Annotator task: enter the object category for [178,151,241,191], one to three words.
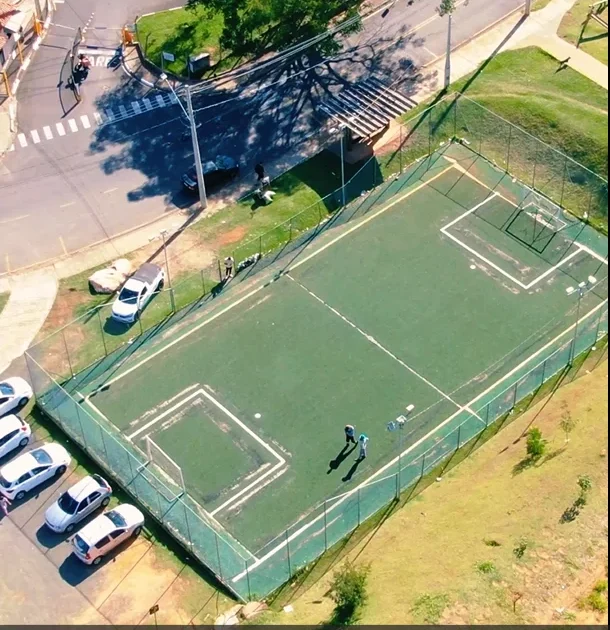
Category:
car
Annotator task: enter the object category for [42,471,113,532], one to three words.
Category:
car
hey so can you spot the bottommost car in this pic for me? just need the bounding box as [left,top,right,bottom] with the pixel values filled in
[71,503,143,562]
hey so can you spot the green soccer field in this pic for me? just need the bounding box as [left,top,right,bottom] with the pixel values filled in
[34,137,610,616]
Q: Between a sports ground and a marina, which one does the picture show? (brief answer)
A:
sports ground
